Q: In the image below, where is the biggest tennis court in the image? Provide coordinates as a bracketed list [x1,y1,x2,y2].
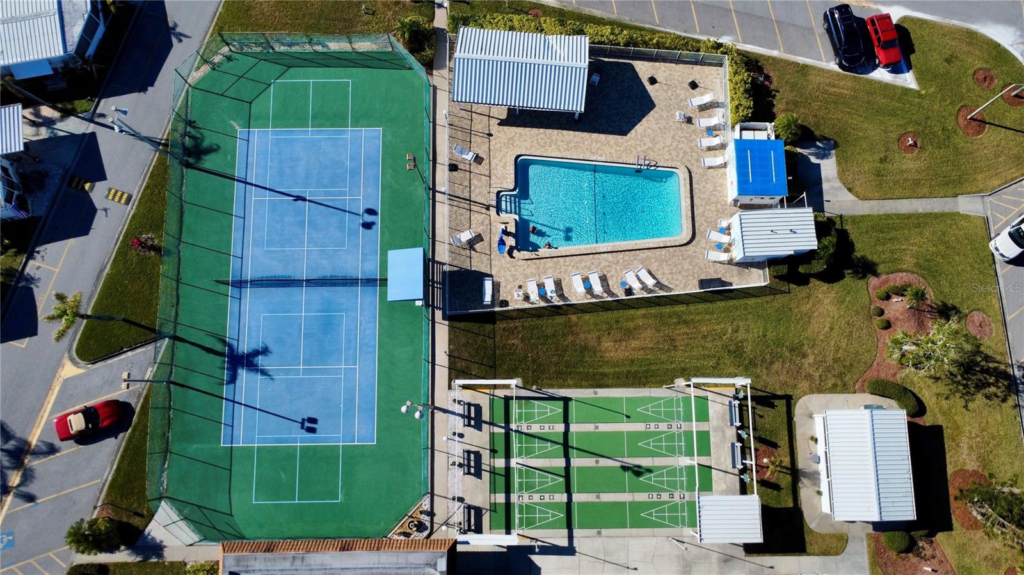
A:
[166,51,430,539]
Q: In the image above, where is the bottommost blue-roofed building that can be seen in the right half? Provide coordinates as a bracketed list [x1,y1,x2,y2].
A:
[725,139,788,205]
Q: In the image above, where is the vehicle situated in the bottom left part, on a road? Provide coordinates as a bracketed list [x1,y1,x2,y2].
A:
[50,403,125,444]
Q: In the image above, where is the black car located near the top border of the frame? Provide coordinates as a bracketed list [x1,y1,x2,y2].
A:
[825,5,869,69]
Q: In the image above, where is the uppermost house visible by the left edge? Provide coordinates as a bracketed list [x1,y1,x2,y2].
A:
[0,0,108,93]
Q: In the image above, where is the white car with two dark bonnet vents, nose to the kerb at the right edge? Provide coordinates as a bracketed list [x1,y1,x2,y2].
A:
[990,216,1024,265]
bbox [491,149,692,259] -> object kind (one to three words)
swimming pool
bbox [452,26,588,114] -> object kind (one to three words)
building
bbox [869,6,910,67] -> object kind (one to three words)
car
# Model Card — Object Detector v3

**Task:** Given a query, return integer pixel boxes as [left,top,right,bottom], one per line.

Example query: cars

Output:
[825,5,869,69]
[50,403,125,444]
[869,6,910,67]
[990,216,1024,265]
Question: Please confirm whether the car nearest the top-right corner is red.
Yes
